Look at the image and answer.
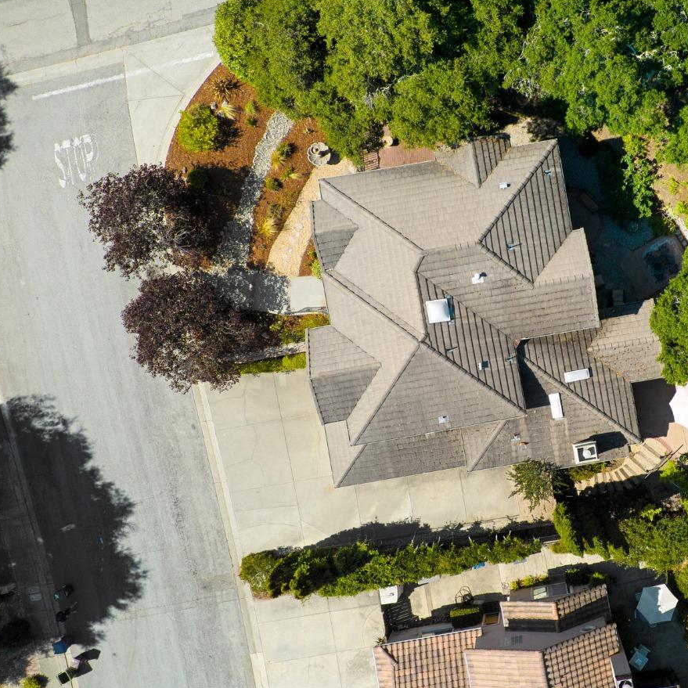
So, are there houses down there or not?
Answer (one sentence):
Yes, a house can be made out from above.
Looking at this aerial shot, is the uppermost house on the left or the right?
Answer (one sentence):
The uppermost house sits on the right side.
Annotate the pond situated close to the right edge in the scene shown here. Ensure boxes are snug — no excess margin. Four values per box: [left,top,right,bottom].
[630,240,684,291]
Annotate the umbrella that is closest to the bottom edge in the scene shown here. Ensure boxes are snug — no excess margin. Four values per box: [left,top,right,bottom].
[635,581,675,623]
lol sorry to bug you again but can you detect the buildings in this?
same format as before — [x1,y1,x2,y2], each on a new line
[372,568,678,688]
[305,133,667,490]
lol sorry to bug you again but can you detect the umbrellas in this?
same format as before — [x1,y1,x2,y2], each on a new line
[635,581,675,623]
[668,390,688,428]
